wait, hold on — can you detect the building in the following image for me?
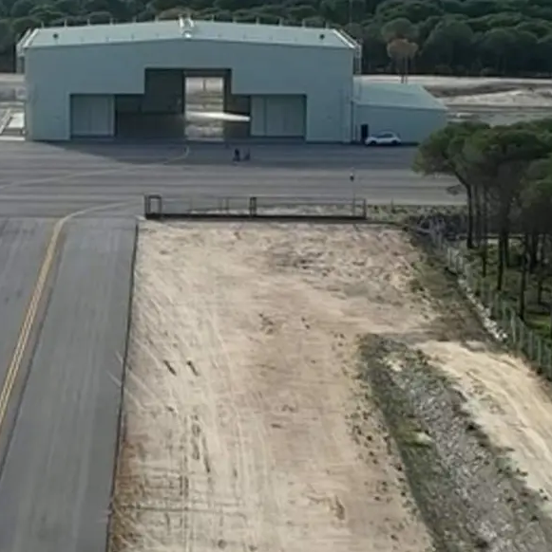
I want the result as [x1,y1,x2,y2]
[15,11,452,141]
